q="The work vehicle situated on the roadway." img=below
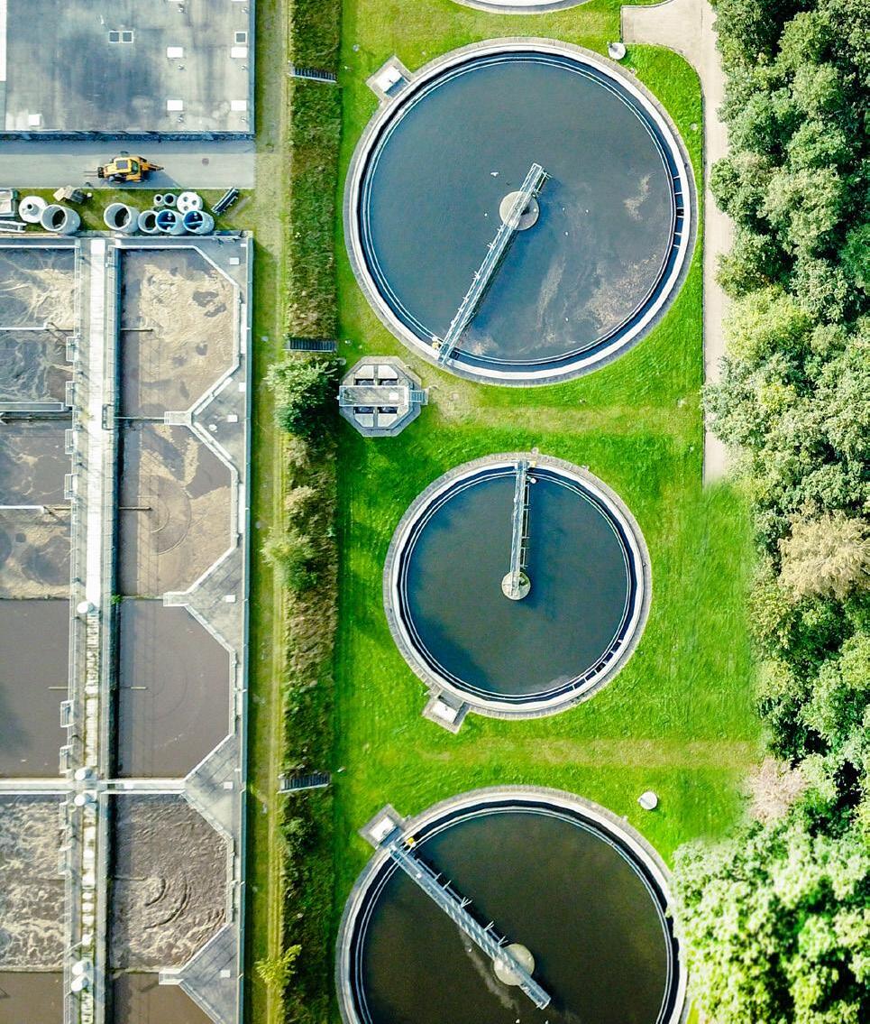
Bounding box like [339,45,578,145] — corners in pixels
[96,149,165,186]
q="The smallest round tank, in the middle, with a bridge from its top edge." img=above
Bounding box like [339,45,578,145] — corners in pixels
[383,452,651,720]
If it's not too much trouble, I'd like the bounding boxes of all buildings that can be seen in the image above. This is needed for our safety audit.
[0,0,253,142]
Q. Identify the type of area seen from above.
industrial area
